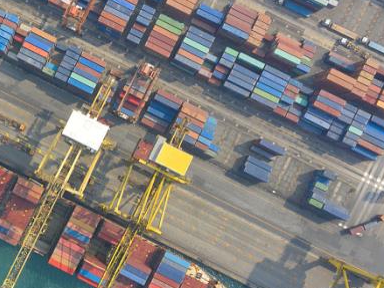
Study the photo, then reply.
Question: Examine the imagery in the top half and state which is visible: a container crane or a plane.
container crane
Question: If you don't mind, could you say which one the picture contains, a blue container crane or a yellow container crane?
yellow container crane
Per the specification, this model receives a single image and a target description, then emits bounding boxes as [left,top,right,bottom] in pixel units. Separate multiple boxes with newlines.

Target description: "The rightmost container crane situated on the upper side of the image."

[106,61,160,127]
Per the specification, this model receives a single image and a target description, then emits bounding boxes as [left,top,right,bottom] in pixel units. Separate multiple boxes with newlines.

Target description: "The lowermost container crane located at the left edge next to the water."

[1,79,119,288]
